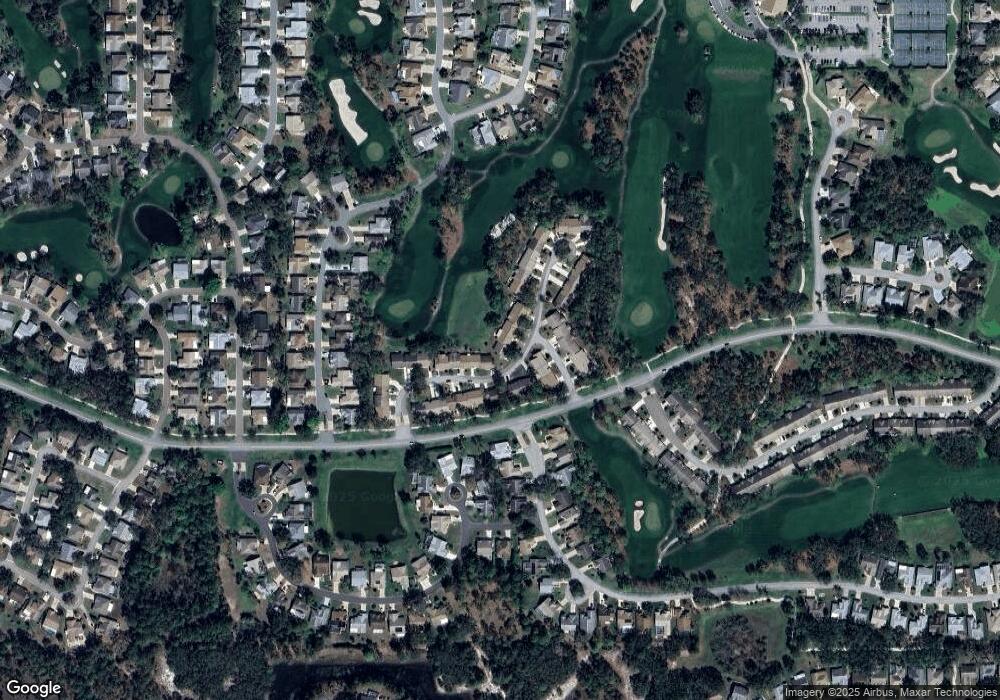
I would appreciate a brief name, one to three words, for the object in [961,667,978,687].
house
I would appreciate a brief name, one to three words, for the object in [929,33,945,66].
tennis court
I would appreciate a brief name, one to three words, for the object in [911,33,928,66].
tennis court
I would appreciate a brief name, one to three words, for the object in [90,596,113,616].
house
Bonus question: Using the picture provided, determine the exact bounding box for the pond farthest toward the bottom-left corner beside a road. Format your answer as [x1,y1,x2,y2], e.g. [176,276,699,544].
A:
[329,470,399,541]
